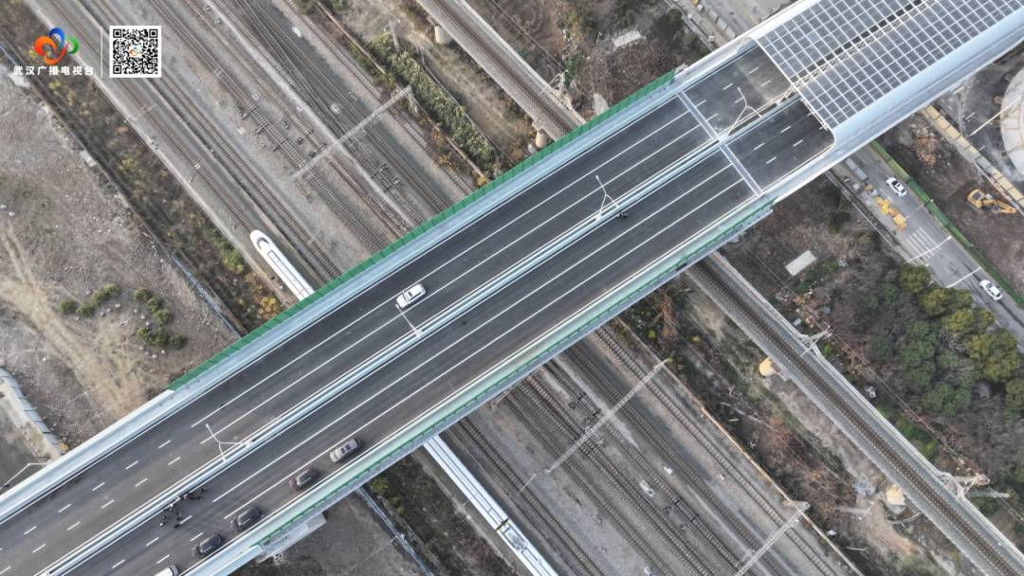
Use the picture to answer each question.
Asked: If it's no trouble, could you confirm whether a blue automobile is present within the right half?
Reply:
No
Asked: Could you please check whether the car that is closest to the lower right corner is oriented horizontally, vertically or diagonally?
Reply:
diagonally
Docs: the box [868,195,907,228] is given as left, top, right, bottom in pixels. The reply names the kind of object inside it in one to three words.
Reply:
work vehicle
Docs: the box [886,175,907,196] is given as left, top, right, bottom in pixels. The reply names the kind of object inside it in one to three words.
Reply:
car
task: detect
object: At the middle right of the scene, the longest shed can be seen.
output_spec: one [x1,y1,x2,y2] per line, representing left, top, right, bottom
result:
[782,250,816,278]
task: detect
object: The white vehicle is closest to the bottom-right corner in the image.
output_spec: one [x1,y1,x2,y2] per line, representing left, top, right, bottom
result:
[979,278,1003,300]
